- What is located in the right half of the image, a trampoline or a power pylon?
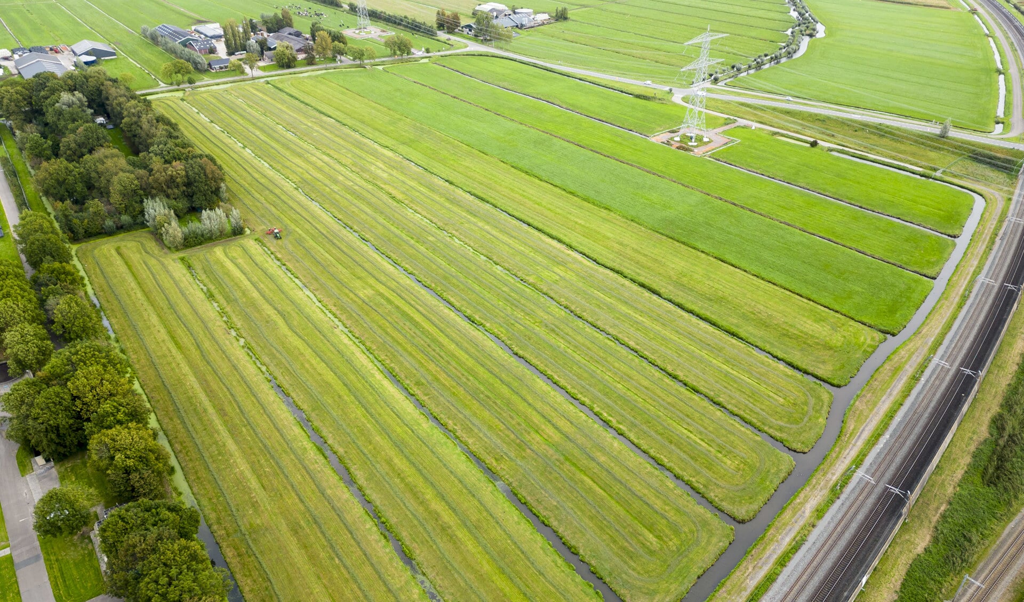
power pylon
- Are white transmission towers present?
Yes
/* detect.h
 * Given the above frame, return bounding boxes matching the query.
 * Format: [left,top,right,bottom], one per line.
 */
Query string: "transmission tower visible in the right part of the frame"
[671,23,730,145]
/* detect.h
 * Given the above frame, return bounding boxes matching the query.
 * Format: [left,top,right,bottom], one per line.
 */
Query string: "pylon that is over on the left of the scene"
[353,0,375,34]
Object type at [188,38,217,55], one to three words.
barn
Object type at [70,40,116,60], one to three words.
barn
